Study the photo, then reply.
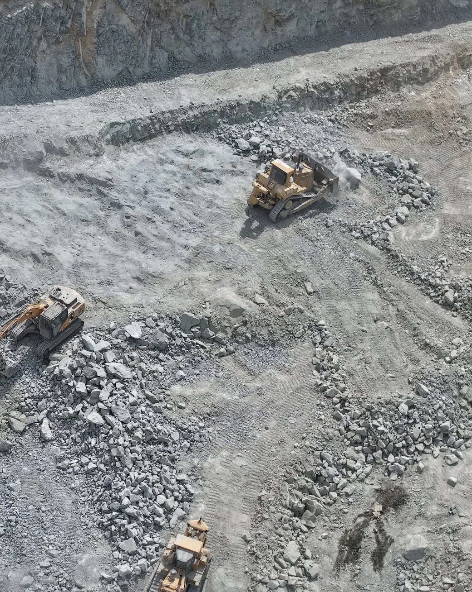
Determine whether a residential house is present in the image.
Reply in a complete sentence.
No, there's no residential house here.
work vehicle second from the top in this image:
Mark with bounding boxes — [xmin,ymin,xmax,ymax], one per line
[0,281,89,376]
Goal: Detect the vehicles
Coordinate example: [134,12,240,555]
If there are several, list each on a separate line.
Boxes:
[150,520,214,592]
[0,281,89,376]
[247,150,341,224]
